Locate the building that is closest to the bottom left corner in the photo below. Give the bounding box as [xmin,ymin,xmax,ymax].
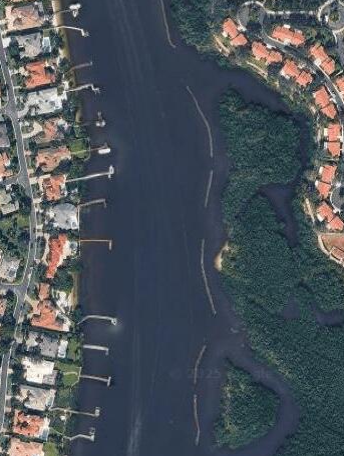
[9,438,40,456]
